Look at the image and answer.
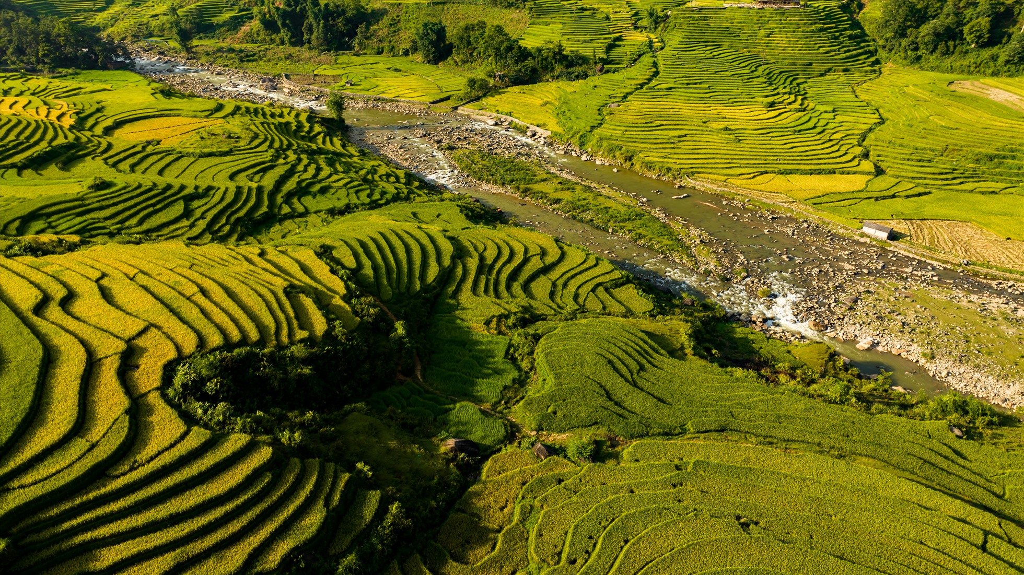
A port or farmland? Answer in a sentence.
This looks like farmland.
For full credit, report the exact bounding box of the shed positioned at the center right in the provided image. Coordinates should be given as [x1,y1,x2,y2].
[862,217,897,242]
